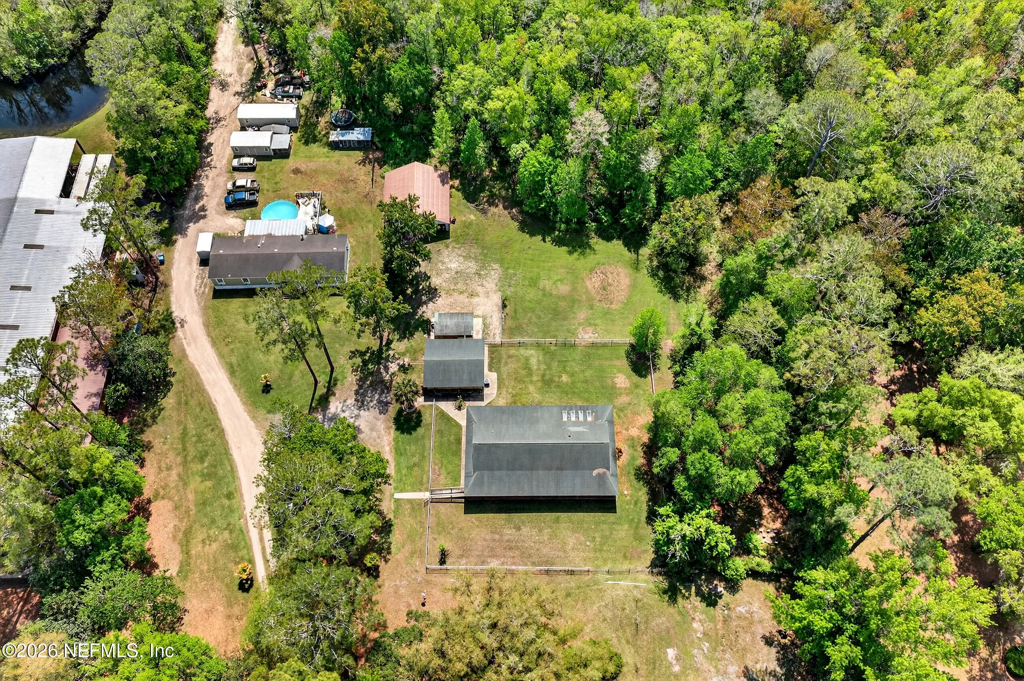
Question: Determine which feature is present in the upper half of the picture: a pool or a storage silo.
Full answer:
You can see a pool in the upper half of the picture.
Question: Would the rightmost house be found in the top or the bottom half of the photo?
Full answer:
It is in the bottom half that the rightmost house appears.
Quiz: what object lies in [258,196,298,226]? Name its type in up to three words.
swimming pool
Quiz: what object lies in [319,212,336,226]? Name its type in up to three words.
umbrella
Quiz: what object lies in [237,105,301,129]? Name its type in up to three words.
shed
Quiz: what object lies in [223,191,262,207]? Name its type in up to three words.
vehicle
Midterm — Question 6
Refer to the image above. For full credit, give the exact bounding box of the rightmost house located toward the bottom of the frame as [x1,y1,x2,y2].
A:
[464,406,618,500]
